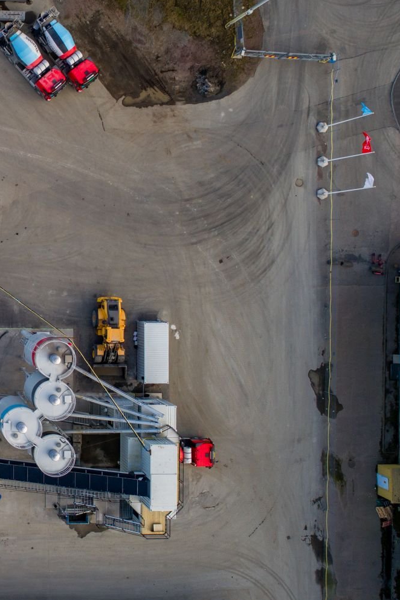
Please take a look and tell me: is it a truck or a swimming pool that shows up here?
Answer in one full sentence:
The image shows a truck.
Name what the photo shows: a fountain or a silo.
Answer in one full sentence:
It is a silo that can be seen here.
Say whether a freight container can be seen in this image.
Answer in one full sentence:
Yes, the picture does show a freight container.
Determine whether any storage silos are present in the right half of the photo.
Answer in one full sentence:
No, the scene shows no storage silo in the right half of the photo.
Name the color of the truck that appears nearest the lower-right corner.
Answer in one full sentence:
From above, the truck that appears nearest the lower-right corner appears red.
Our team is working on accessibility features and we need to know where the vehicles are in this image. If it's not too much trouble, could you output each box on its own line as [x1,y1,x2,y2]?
[184,436,218,467]
[29,8,107,98]
[87,296,129,378]
[0,20,73,107]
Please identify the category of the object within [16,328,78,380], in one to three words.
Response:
silo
